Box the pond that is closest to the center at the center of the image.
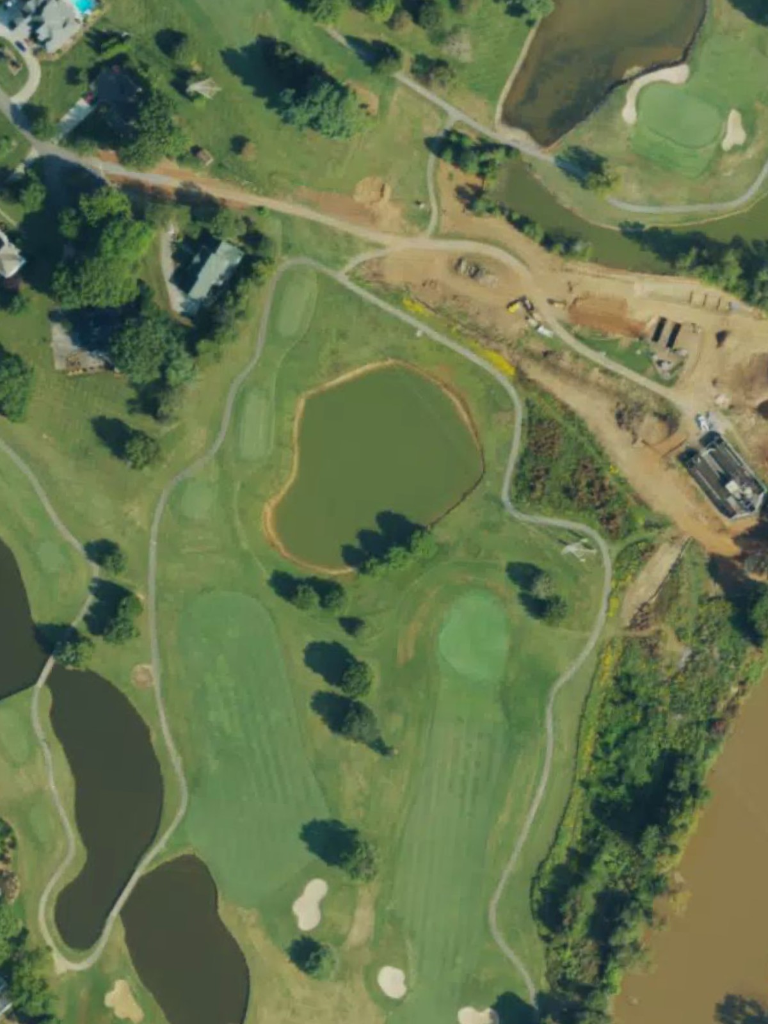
[271,363,483,570]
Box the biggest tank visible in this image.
[683,433,765,520]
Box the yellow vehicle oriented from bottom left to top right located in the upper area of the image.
[507,299,528,314]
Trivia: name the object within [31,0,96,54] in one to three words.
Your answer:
house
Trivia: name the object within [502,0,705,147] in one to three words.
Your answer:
pond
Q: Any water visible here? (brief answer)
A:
Yes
